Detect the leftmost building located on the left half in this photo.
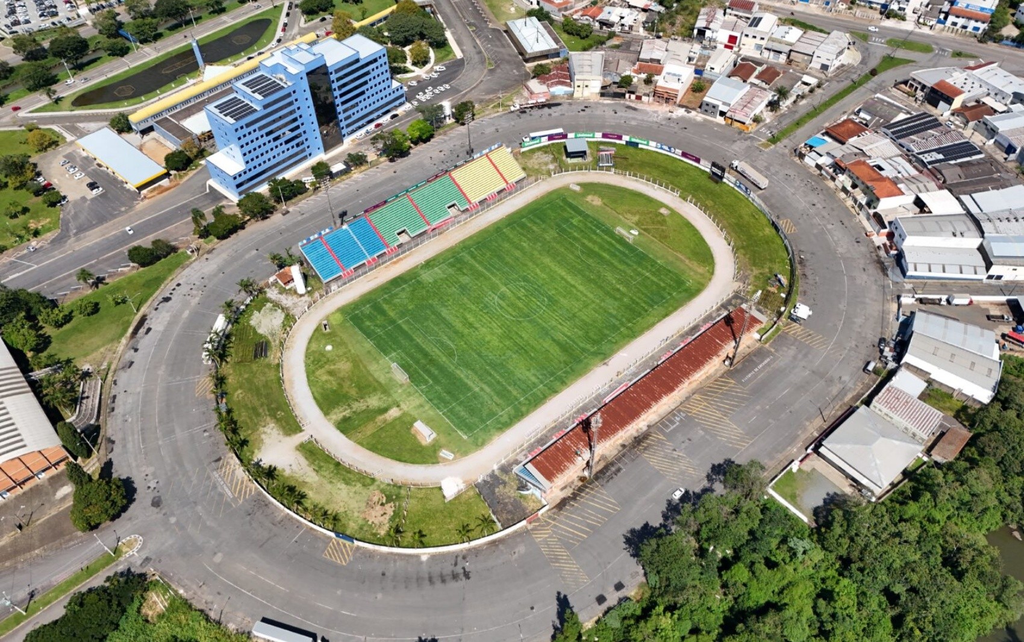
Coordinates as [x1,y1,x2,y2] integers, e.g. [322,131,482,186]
[0,338,85,516]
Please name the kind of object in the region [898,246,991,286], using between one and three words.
building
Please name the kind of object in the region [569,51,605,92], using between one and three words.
building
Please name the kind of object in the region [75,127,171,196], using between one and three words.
shed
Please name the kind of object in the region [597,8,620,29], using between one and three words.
house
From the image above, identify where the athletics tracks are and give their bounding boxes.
[283,171,736,486]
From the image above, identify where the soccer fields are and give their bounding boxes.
[344,194,692,441]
